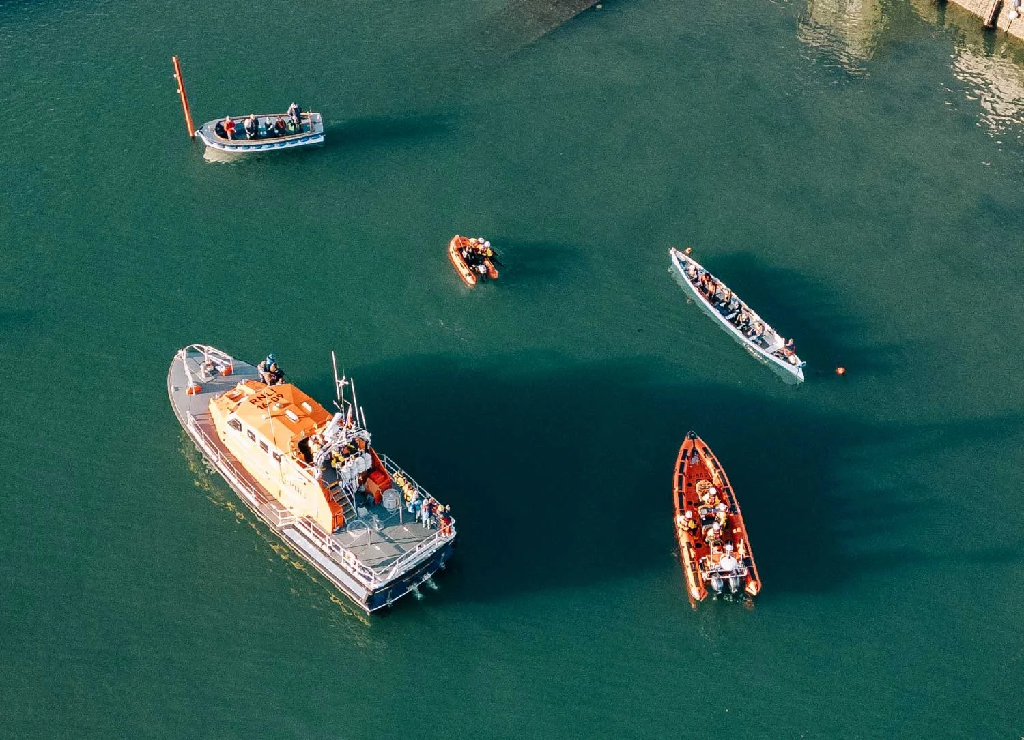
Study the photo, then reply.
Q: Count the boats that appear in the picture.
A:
five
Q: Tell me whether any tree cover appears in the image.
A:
No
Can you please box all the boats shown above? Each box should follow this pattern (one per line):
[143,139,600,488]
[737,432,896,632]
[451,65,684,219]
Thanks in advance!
[194,106,330,155]
[671,244,815,389]
[446,235,501,289]
[672,431,757,607]
[167,339,457,618]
